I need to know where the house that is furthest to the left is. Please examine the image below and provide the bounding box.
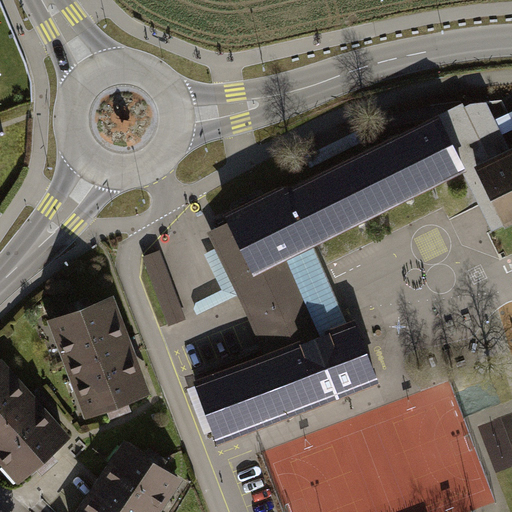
[0,358,70,486]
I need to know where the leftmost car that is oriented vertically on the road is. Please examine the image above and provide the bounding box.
[54,43,68,69]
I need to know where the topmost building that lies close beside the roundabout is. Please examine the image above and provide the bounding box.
[224,111,468,276]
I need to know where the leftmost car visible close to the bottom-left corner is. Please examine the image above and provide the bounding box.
[71,475,90,496]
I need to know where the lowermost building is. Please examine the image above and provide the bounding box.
[72,440,192,512]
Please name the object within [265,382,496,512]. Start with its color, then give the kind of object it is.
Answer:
red sports court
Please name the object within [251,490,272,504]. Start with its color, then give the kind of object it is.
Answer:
red vehicle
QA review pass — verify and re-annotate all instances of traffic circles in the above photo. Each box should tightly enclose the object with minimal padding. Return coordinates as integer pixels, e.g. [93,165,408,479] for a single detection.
[53,46,196,191]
